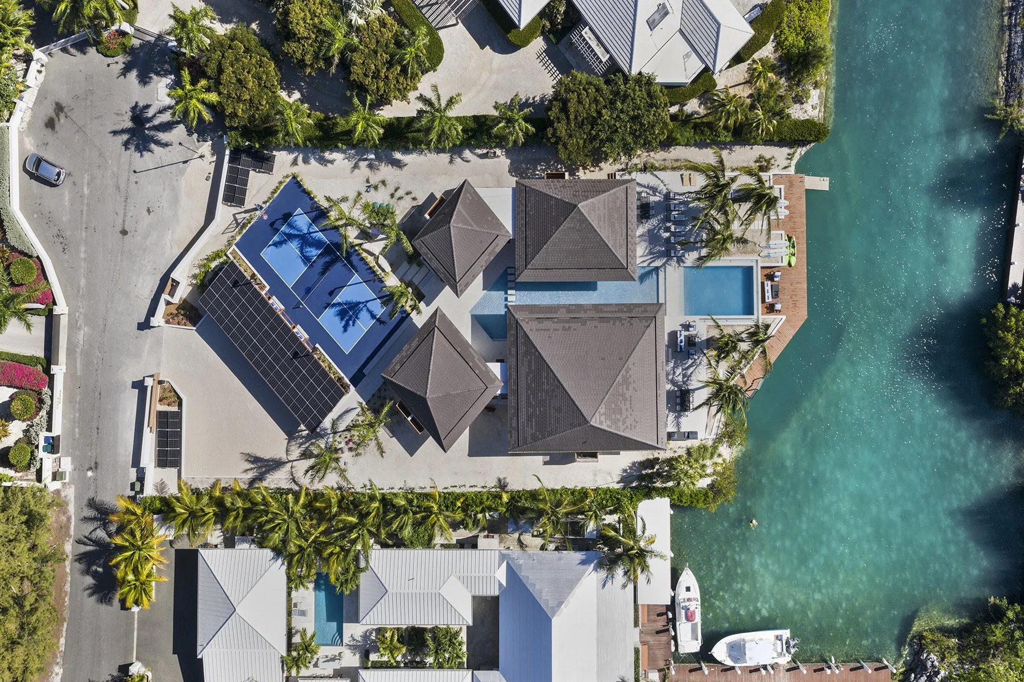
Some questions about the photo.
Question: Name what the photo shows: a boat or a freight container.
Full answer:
The image shows a boat.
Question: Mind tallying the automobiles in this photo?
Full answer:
In total, there is 1 automobile in the scene.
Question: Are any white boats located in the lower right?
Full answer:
Yes, a white boat appears in the lower right.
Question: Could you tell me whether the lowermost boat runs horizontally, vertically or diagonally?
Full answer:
The lowermost boat is laid out horizontally.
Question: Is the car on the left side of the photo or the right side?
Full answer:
The car sits on the left side.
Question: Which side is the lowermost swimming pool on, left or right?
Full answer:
You can find the lowermost swimming pool on the left side of the picture.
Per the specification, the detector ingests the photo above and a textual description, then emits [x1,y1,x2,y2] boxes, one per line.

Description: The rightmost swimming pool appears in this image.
[684,266,753,316]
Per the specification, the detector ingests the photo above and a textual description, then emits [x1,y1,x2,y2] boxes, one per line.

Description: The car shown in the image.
[27,156,69,185]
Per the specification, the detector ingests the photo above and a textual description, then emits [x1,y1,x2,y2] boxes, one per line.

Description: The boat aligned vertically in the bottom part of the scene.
[675,571,701,651]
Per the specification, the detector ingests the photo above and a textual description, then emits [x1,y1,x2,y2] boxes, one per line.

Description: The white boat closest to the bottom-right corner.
[706,634,800,665]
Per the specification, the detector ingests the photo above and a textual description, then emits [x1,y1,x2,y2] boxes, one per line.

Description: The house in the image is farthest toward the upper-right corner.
[570,0,754,88]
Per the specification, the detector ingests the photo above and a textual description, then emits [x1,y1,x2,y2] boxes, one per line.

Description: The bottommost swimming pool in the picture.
[315,573,343,646]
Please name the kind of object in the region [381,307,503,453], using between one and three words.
house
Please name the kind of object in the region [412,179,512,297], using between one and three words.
house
